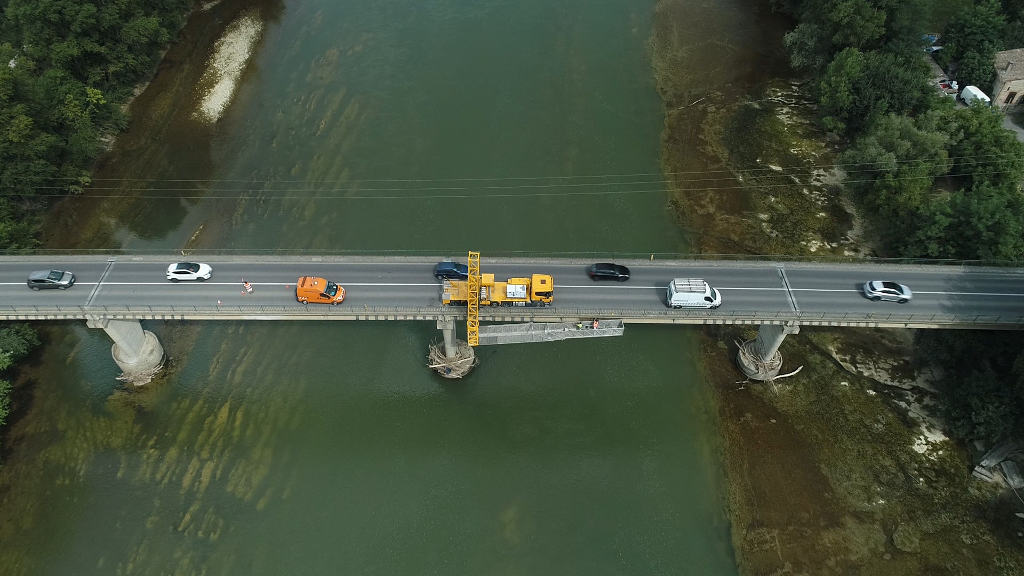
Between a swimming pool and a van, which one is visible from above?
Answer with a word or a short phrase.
van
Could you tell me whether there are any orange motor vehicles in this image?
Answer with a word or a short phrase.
Yes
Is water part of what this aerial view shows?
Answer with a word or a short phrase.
Yes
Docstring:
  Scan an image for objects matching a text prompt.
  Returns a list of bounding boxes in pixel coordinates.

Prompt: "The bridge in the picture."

[0,253,1024,383]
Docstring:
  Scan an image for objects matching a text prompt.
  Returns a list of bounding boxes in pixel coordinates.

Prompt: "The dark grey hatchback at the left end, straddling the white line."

[27,267,79,288]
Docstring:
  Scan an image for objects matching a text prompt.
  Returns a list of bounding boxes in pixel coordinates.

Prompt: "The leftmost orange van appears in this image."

[293,274,349,303]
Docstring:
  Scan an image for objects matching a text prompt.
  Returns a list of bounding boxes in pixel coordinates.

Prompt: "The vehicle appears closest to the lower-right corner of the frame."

[862,278,912,301]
